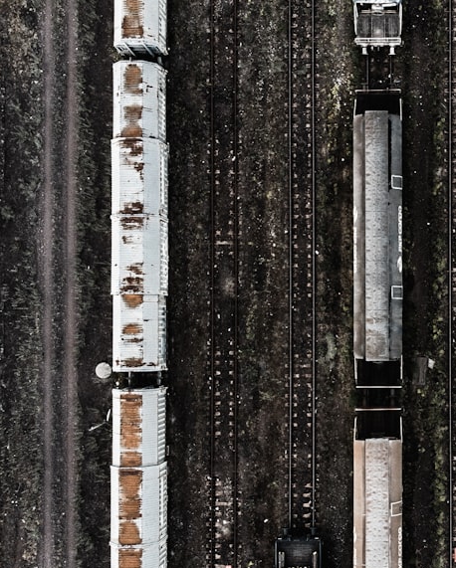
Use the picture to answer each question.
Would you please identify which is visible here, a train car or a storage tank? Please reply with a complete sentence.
Of the two, only a train car appears.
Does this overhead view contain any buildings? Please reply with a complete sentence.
No, no building can be seen from above.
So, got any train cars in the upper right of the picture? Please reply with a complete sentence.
Yes, there is a train car in the upper right of the picture.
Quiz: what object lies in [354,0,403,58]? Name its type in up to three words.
rail car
